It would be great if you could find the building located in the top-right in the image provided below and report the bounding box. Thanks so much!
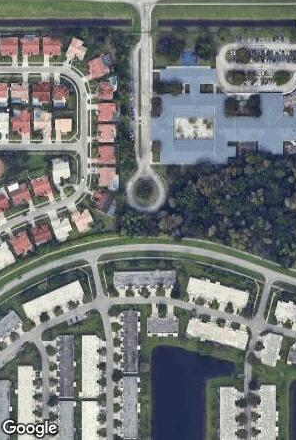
[150,69,296,165]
